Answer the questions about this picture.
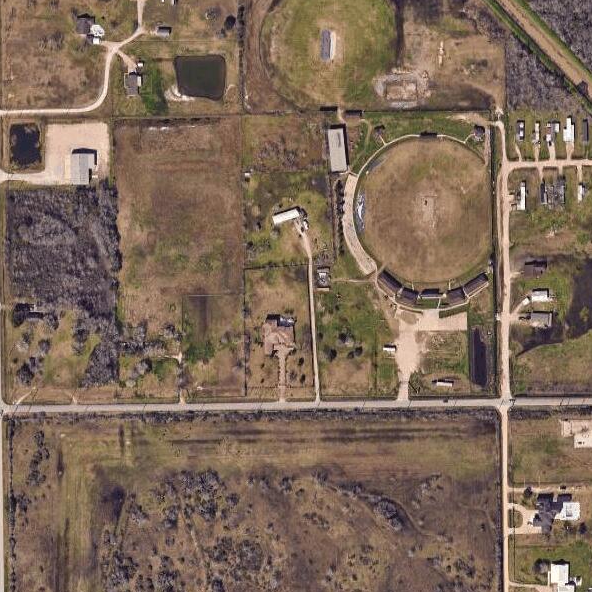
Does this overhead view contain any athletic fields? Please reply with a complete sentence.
Yes, I can see an athletic field in this picture.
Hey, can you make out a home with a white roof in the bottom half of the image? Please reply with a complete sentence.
Yes, in the bottom half of the image there is a home with a white roof.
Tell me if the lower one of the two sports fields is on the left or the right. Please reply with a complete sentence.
It is on the right.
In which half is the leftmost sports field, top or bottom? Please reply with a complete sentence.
The leftmost sports field sits in the top half of the picture.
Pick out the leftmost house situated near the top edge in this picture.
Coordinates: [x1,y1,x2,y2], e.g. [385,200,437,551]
[76,14,100,44]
